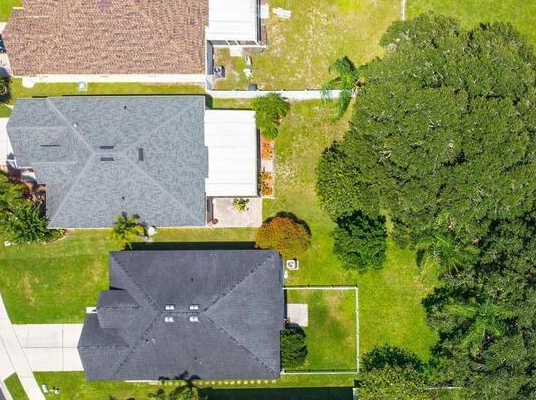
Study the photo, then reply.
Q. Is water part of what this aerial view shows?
No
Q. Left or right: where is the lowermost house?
left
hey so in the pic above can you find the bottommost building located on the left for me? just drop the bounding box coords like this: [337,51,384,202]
[77,250,285,384]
